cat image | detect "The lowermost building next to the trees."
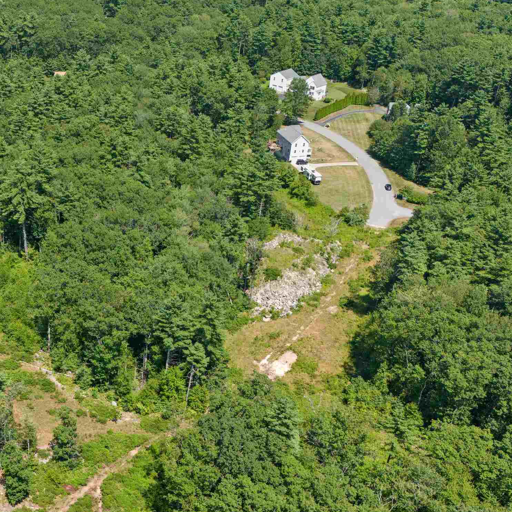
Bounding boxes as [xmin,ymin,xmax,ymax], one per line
[277,125,313,161]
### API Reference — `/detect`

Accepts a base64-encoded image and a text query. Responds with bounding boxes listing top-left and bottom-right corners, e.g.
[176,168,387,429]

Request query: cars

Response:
[295,157,308,164]
[383,184,394,190]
